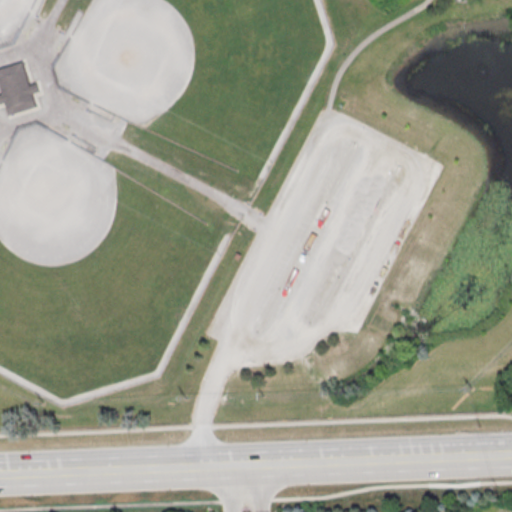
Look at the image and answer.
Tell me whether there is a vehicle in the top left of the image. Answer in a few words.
No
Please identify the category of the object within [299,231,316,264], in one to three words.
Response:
vehicle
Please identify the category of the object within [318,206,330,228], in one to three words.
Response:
vehicle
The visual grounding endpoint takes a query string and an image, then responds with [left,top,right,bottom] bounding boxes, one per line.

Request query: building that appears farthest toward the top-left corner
[0,60,42,118]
